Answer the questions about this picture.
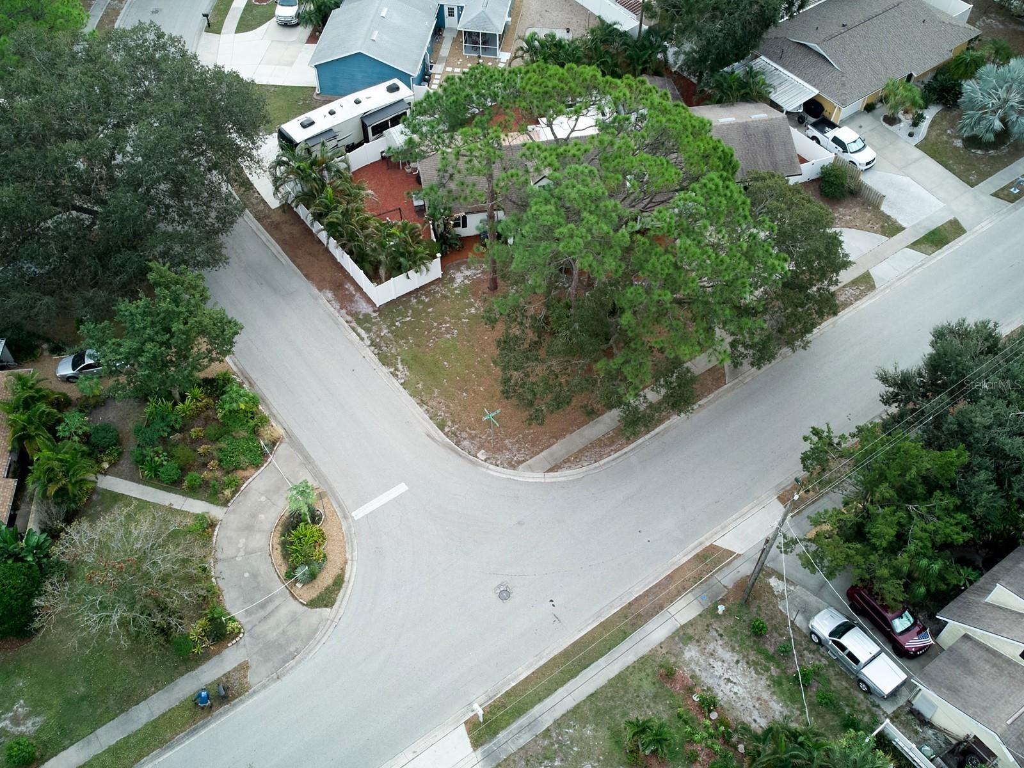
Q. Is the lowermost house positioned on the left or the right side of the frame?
right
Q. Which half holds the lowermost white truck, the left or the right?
right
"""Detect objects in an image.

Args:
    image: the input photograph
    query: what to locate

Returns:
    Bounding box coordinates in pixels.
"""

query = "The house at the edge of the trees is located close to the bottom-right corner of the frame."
[908,548,1024,768]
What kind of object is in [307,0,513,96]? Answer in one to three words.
house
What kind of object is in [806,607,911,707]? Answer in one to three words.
truck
